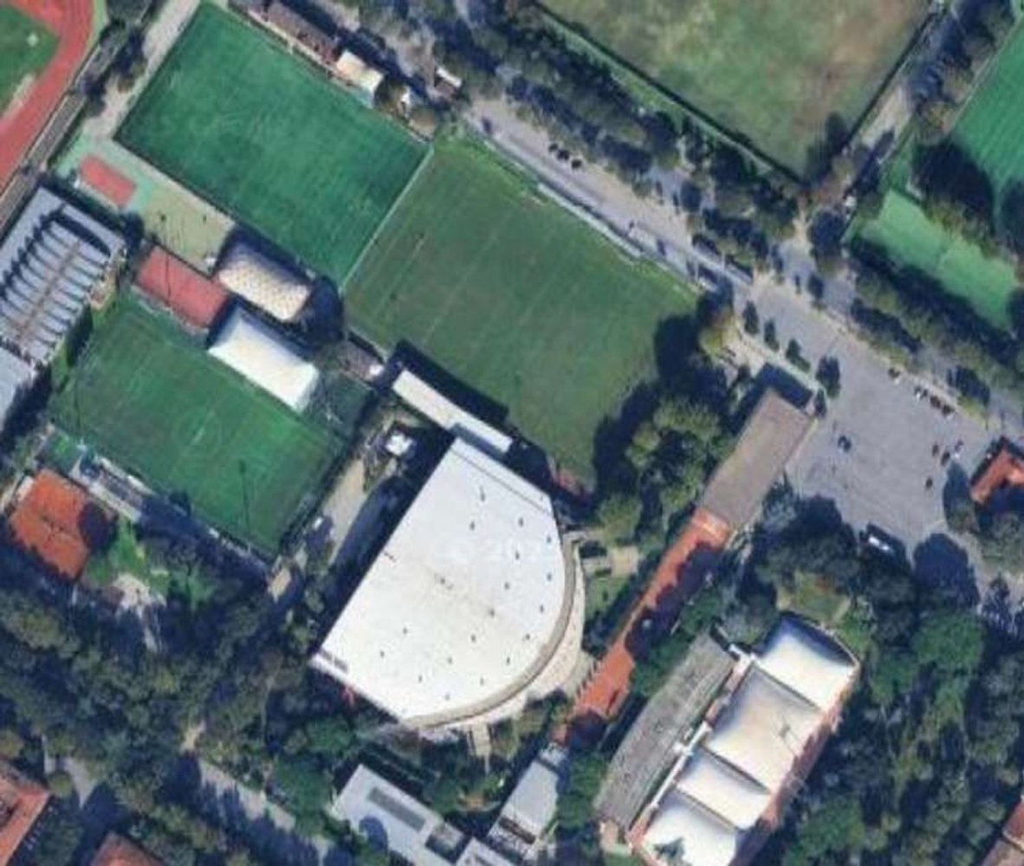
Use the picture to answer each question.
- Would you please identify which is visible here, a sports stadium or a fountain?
sports stadium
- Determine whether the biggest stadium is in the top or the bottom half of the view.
bottom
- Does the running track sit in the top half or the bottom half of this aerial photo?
top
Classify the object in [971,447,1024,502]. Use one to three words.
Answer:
house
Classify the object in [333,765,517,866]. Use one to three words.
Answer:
building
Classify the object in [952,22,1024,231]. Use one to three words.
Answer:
sports field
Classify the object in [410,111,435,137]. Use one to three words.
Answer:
shed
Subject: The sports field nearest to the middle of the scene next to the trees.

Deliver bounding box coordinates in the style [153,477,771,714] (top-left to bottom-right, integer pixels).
[346,147,700,495]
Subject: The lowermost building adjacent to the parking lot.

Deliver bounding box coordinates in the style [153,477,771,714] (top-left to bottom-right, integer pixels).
[626,613,860,866]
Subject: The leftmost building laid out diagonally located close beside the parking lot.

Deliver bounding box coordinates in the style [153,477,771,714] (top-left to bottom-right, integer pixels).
[576,506,730,719]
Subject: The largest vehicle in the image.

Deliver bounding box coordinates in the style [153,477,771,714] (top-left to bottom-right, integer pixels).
[868,535,895,555]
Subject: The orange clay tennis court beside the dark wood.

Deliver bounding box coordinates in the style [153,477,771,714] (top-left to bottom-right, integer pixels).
[9,469,97,579]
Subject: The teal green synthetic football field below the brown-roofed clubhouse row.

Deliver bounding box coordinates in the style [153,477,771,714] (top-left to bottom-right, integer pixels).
[111,0,433,291]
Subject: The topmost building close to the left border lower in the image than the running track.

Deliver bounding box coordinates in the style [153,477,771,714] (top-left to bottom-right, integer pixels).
[0,186,124,364]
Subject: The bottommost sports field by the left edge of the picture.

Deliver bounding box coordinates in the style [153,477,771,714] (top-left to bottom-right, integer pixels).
[49,295,352,556]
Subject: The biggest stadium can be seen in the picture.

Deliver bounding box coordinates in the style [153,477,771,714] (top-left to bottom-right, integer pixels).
[314,439,588,757]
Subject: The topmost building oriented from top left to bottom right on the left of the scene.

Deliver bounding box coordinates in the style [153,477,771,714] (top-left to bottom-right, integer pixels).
[262,4,340,66]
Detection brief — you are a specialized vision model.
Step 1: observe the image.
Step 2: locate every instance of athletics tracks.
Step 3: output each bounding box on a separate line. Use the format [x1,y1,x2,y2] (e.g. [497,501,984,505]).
[0,0,95,186]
